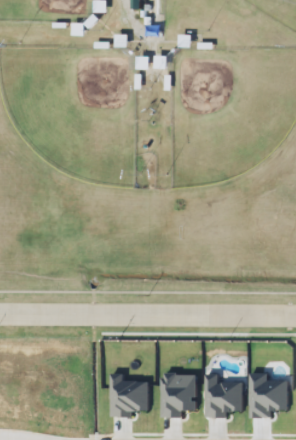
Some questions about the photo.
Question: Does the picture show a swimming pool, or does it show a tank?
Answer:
swimming pool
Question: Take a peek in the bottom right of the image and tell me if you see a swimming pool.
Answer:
Yes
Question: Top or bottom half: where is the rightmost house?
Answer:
bottom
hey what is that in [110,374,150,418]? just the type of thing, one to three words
house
